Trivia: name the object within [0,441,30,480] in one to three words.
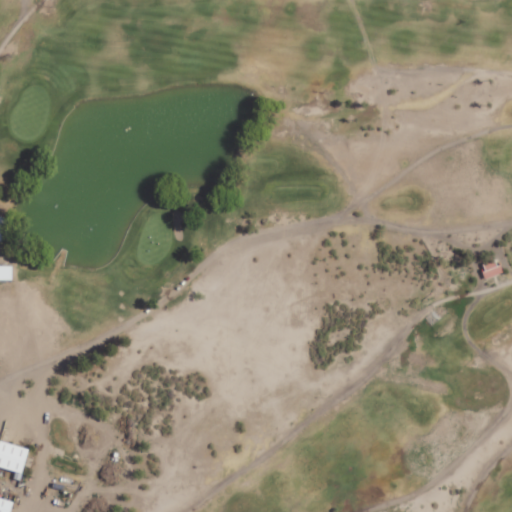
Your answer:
building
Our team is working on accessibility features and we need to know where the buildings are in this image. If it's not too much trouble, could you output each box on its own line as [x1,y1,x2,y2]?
[482,260,505,281]
[0,265,12,282]
[0,498,14,512]
[0,441,30,480]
